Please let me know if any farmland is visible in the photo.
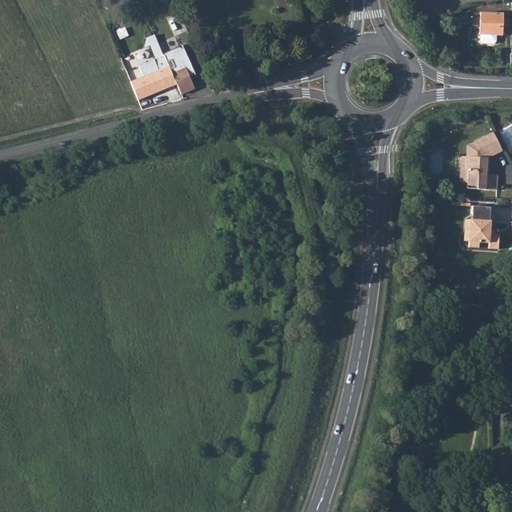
Yes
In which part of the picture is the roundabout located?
top right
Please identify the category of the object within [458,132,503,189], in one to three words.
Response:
house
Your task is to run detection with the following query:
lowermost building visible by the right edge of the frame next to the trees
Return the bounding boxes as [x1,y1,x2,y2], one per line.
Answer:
[464,206,500,251]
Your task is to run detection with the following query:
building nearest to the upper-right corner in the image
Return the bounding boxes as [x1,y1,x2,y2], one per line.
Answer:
[480,11,504,45]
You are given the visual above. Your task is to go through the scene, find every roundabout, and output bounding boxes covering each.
[246,0,512,188]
